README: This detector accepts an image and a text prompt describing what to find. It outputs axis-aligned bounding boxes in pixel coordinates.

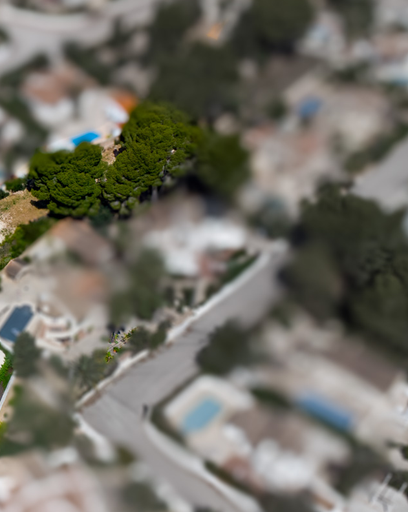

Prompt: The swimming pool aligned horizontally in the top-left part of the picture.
[66,129,105,146]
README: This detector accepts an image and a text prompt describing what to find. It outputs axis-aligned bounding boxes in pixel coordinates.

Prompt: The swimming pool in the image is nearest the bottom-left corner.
[0,300,40,345]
